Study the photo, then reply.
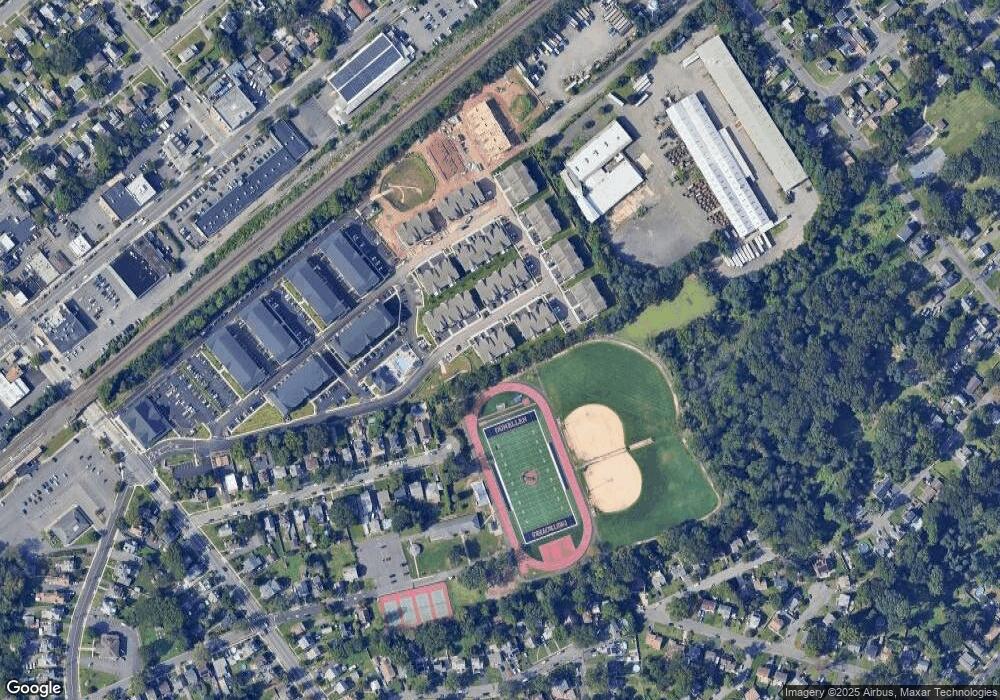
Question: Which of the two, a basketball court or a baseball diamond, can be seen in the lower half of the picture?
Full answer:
What appears in the lower half of the picture is a baseball diamond.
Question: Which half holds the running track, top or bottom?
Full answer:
You can find the running track in the bottom half.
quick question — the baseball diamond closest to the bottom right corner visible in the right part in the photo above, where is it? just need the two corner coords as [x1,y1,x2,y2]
[576,436,718,547]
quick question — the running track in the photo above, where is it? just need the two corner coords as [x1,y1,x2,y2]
[465,388,594,574]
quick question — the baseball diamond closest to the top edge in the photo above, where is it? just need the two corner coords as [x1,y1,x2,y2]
[537,341,681,467]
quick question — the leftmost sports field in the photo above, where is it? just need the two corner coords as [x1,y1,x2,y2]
[477,396,585,558]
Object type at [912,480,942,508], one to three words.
house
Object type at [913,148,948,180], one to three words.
building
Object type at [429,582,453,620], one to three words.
tennis court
